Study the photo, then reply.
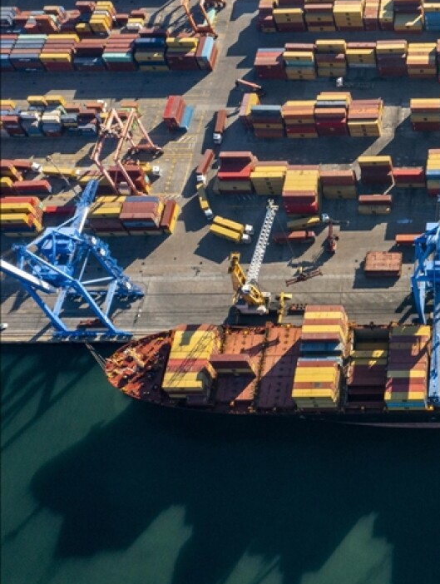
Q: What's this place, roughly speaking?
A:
port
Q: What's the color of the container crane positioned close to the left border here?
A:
blue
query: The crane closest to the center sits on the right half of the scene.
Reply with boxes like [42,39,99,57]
[214,200,322,325]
